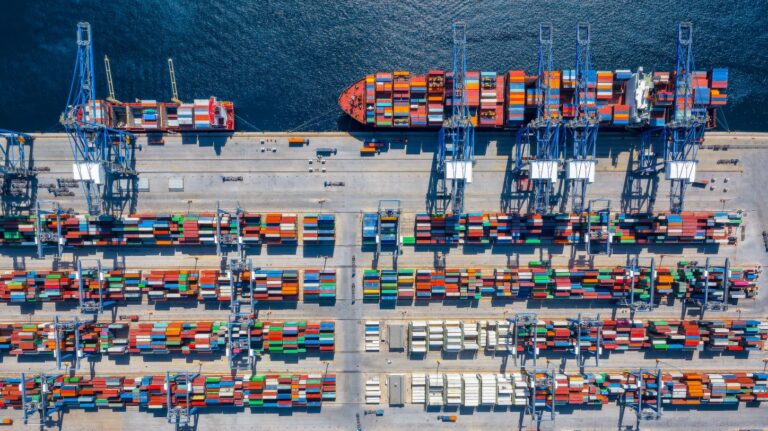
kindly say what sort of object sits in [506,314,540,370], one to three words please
crane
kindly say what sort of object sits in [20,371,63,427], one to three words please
crane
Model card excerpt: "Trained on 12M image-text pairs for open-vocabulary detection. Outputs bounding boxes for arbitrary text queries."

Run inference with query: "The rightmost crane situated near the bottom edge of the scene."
[624,371,664,427]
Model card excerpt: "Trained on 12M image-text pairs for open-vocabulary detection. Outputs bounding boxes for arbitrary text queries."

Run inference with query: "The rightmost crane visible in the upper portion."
[629,22,712,215]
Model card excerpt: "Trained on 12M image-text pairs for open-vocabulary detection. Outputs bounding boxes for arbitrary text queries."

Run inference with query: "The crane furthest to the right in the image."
[688,259,731,314]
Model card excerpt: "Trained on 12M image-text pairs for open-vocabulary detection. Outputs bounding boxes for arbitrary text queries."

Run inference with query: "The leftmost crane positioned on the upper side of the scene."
[0,129,35,172]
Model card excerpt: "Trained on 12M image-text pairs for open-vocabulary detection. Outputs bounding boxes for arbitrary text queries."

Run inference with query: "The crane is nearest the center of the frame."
[374,200,404,256]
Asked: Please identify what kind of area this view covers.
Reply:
port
